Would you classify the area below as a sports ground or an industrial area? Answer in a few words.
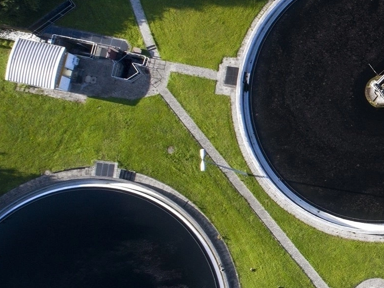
industrial area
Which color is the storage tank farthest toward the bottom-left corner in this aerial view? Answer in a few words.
black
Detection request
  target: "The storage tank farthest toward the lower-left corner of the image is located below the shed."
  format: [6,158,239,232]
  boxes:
[0,168,243,288]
